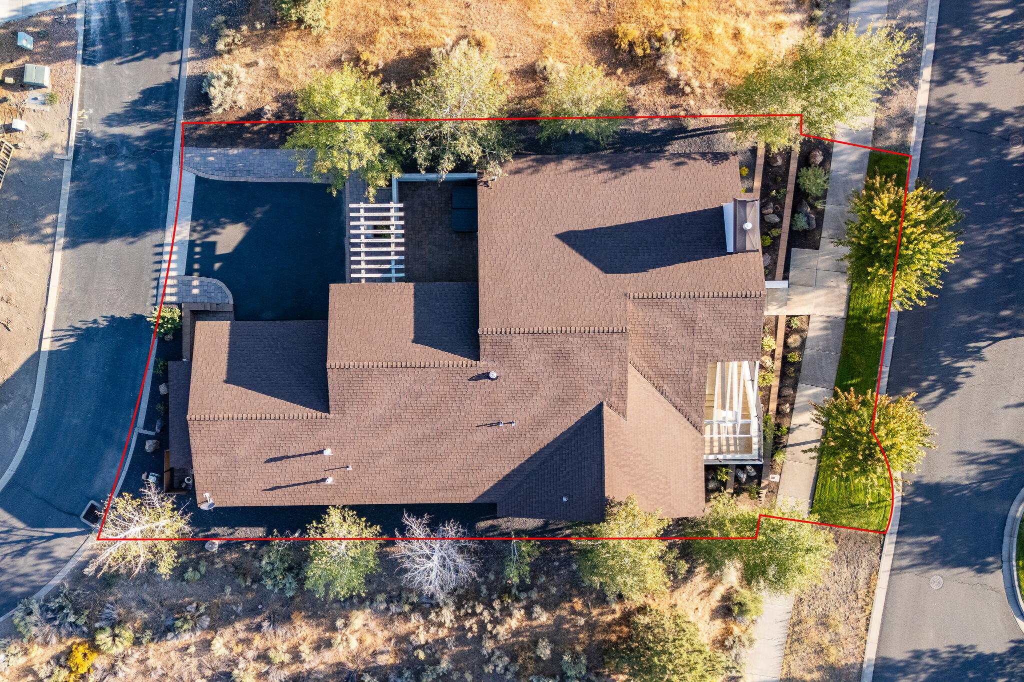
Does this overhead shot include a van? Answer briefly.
No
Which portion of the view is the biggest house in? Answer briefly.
center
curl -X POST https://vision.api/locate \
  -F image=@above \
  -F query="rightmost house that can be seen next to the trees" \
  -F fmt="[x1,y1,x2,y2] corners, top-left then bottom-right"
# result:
[188,152,766,520]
